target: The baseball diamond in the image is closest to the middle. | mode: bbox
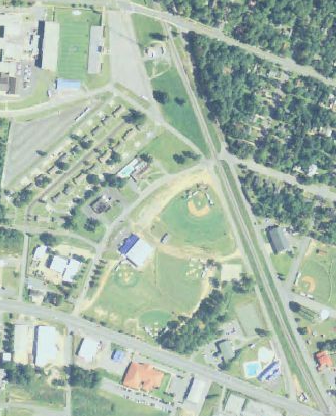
[157,186,237,255]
